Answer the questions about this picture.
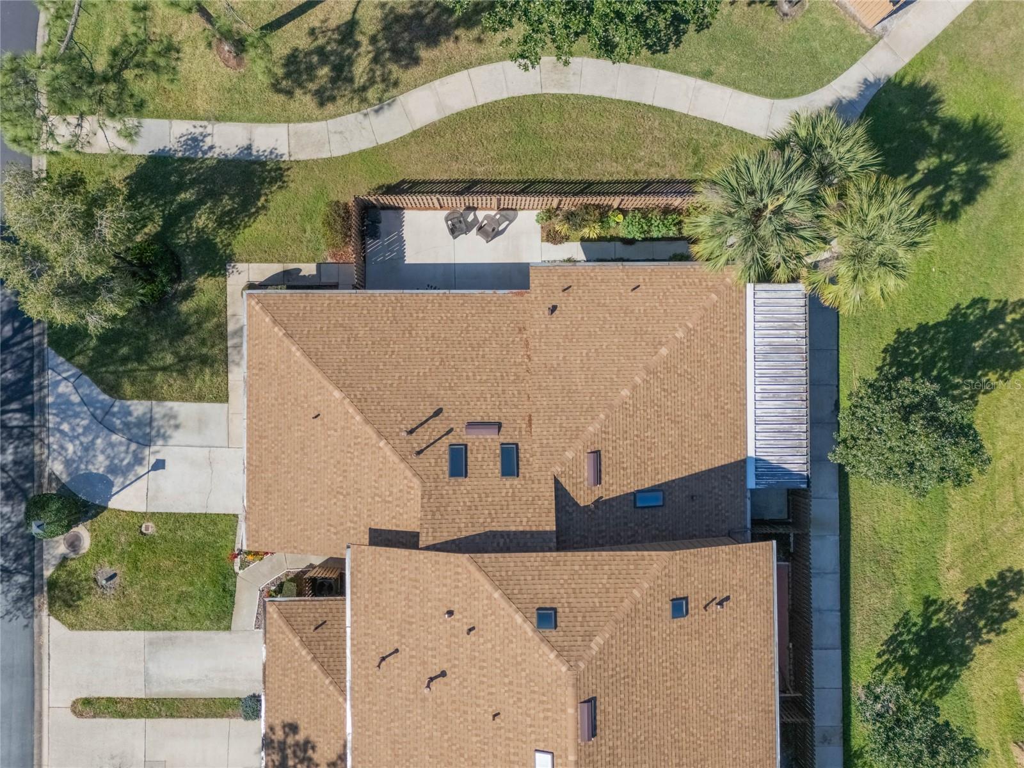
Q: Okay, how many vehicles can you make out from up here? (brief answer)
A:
0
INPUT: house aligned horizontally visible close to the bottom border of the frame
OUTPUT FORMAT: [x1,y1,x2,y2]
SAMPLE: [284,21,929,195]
[261,539,780,768]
